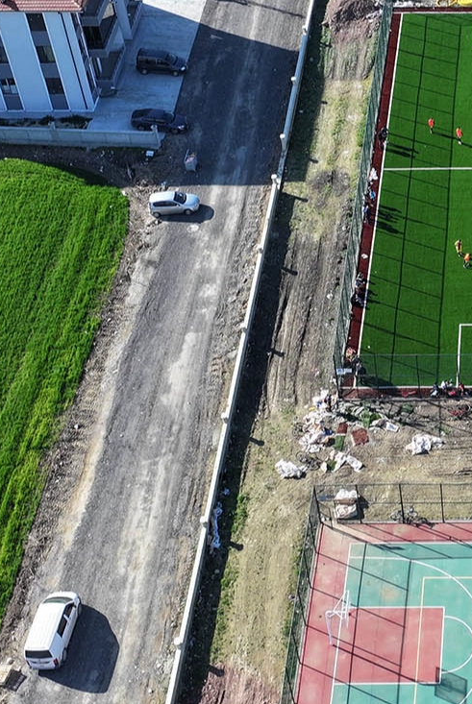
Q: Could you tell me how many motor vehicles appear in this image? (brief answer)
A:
4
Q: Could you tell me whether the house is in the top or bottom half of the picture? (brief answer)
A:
top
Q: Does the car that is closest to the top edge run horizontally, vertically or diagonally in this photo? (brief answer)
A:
horizontally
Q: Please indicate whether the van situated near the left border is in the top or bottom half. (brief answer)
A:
bottom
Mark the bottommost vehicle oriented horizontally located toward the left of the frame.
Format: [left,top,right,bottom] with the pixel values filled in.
[147,189,204,218]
